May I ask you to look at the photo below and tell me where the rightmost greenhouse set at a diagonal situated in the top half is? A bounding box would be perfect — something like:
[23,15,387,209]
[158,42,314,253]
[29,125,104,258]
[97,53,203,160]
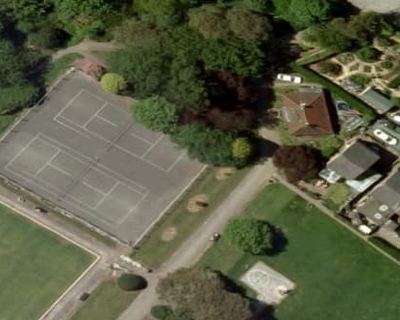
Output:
[360,88,394,114]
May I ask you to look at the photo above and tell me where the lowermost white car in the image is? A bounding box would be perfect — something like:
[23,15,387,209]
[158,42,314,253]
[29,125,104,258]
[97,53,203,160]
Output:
[374,128,398,145]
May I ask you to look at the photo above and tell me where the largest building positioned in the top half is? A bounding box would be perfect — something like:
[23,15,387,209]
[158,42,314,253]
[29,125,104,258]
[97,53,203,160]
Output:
[281,88,336,136]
